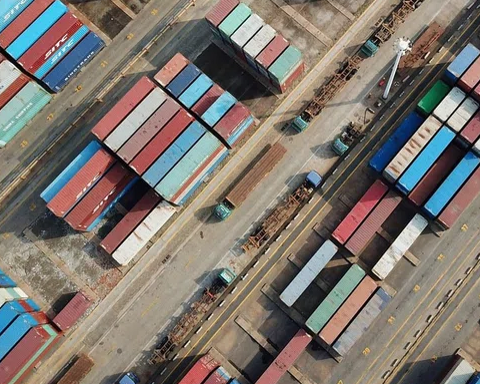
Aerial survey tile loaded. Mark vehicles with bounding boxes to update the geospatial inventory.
[155,260,240,356]
[289,52,365,135]
[243,164,323,255]
[118,368,142,384]
[357,0,420,59]
[211,135,292,222]
[58,354,98,384]
[327,120,364,157]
